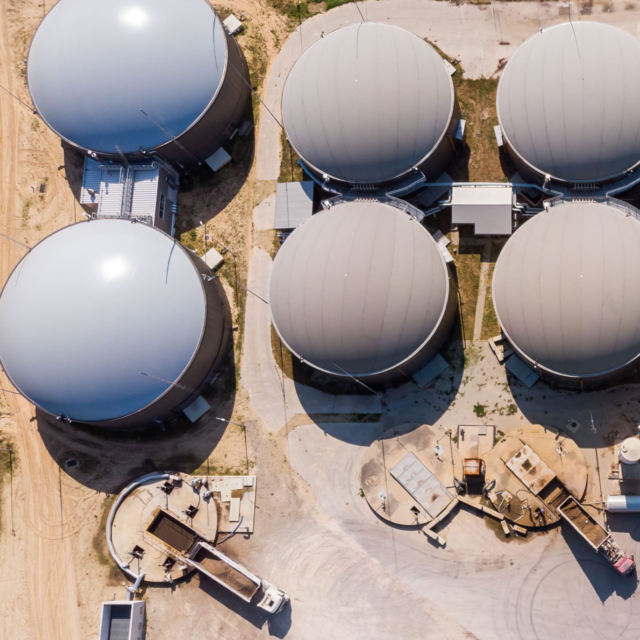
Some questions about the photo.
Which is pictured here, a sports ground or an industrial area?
industrial area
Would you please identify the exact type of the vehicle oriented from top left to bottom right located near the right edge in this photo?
truck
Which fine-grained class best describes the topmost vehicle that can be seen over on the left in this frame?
truck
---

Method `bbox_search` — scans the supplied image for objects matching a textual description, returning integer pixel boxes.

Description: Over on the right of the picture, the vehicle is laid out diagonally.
[557,495,637,576]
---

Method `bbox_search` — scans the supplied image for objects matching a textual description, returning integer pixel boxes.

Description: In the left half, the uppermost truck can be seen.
[186,542,299,617]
